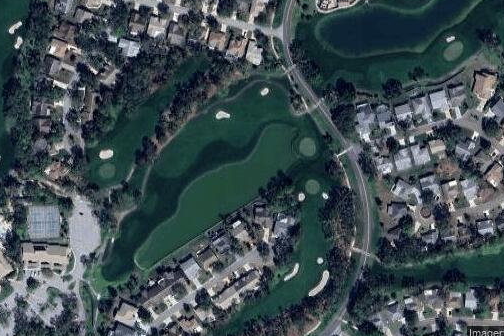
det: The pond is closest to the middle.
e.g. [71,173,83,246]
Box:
[135,124,295,269]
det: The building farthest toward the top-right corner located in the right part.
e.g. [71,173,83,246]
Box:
[472,71,499,103]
